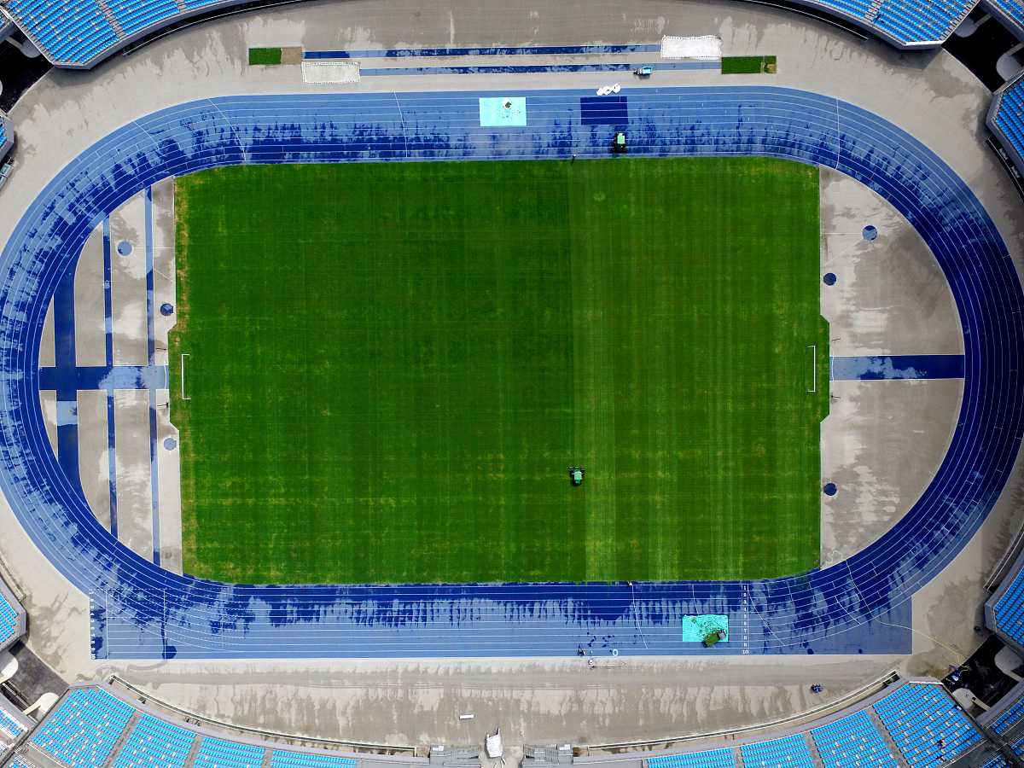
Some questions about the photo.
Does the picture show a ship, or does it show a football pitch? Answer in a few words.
football pitch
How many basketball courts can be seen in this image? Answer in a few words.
none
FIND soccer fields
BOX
[168,156,829,584]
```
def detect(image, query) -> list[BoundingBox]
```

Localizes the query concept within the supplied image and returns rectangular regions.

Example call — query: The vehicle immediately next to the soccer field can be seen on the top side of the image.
[611,132,629,154]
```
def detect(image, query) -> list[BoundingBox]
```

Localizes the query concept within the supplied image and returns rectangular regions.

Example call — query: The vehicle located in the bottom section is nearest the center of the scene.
[569,467,586,486]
